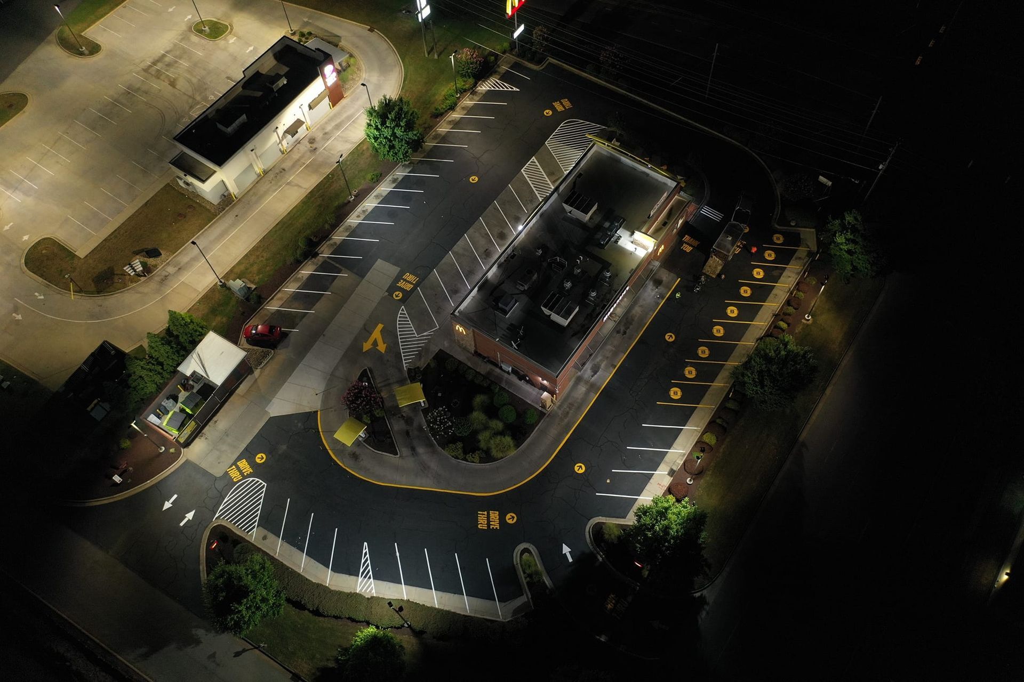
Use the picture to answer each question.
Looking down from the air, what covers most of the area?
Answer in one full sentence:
Most of the picture is covered by paved ground.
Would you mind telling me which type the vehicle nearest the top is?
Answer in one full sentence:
What you see as the vehicle nearest the top is a truck.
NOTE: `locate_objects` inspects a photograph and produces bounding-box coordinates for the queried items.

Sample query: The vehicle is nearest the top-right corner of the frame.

[702,197,754,278]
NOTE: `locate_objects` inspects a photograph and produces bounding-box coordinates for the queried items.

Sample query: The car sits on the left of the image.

[242,320,281,339]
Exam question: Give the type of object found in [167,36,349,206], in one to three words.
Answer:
building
